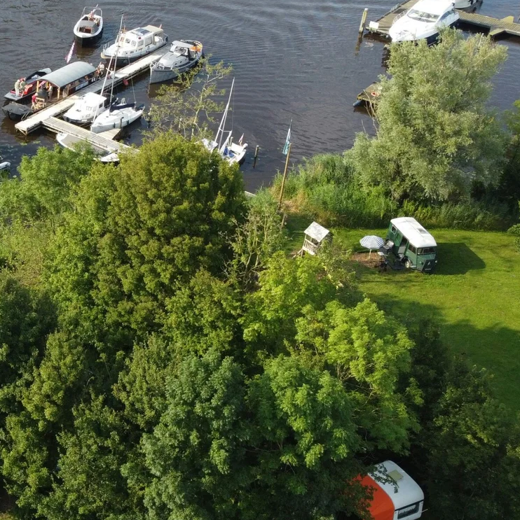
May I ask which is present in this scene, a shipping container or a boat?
boat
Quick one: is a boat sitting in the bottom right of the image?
No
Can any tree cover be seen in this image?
Yes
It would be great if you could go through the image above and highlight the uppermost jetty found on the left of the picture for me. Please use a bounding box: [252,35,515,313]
[11,53,166,140]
